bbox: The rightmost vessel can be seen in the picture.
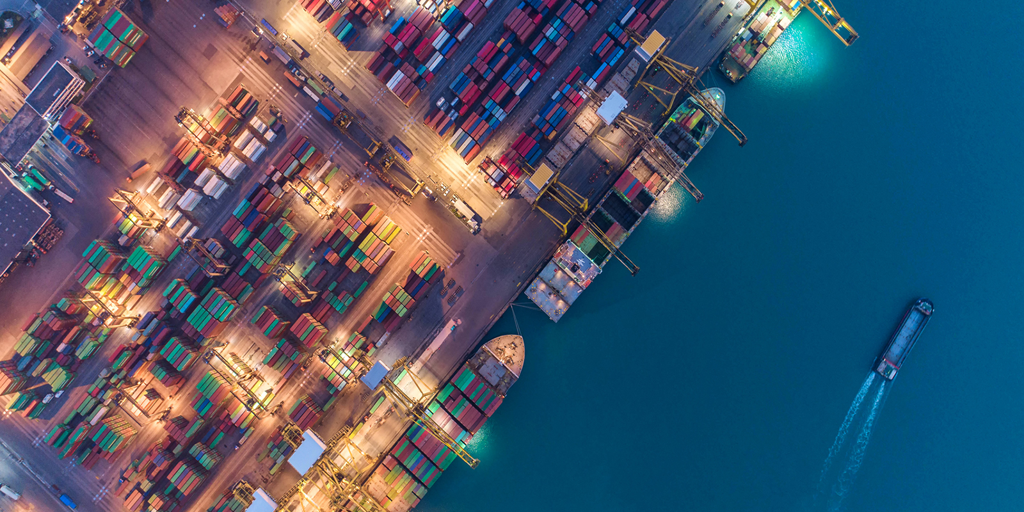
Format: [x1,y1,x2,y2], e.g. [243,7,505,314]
[874,301,932,383]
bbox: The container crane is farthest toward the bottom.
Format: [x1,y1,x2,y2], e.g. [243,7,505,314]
[234,471,339,512]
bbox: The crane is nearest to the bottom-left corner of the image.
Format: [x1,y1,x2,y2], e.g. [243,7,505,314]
[109,377,173,427]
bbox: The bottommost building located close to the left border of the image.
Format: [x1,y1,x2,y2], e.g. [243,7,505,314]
[0,165,56,278]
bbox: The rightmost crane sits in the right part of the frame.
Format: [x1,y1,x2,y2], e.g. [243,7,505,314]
[797,0,860,51]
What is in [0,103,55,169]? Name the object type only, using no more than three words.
building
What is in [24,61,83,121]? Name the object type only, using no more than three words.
building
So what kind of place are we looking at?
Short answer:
port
